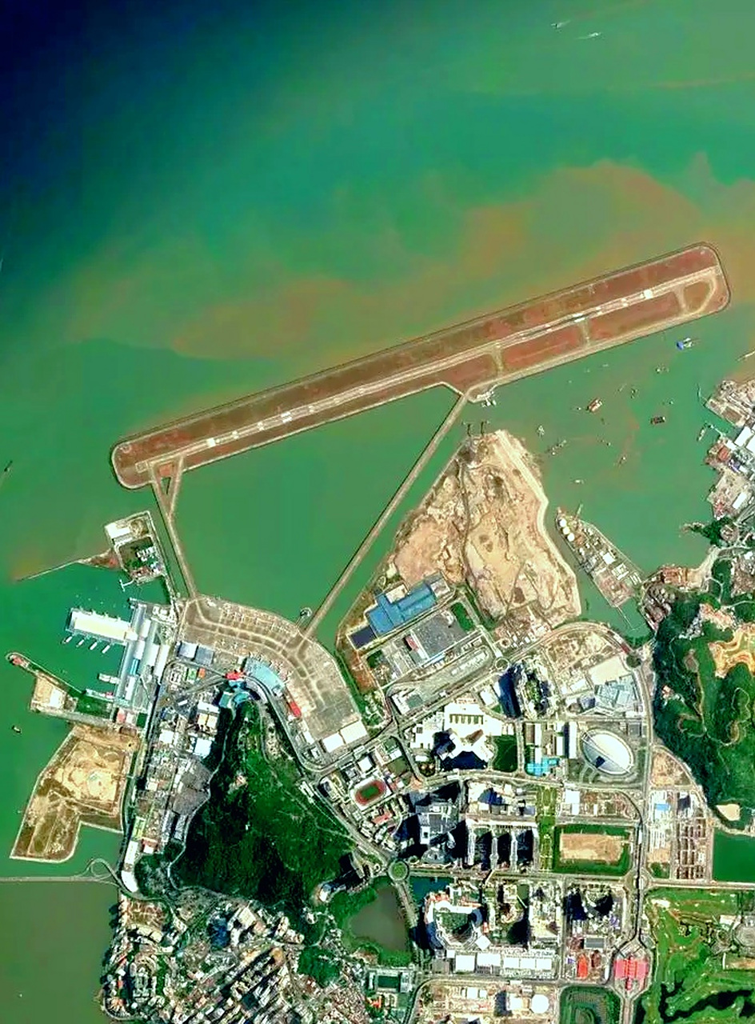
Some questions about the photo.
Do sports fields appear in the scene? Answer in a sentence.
Yes, you can see a sports field in this photo.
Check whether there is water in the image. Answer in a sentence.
Yes, there's water in this view.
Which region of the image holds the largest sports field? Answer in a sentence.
You can find the largest sports field in the bottom right area of the picture.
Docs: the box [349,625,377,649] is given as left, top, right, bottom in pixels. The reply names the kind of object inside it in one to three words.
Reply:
shed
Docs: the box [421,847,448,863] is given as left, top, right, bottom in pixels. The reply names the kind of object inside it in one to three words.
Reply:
building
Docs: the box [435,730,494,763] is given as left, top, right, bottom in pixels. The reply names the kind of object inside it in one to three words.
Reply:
building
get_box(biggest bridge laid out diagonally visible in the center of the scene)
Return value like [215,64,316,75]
[303,396,467,642]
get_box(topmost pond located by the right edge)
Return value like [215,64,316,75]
[712,828,755,883]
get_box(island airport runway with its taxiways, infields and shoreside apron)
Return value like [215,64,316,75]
[110,240,732,748]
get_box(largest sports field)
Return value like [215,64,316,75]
[552,824,632,875]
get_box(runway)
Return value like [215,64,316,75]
[133,265,717,472]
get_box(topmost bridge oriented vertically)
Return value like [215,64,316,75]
[148,470,196,598]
